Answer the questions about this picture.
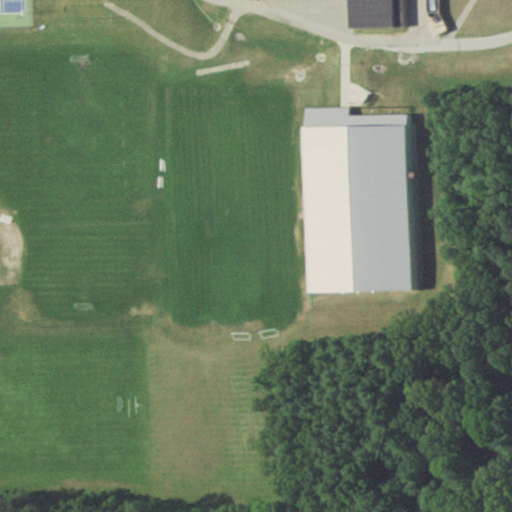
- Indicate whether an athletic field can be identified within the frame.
Yes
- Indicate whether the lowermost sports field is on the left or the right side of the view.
left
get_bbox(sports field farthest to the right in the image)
[163,82,300,328]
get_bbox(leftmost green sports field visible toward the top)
[0,42,162,318]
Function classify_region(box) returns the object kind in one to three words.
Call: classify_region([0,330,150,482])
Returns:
sports field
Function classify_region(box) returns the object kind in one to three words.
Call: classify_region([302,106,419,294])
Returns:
building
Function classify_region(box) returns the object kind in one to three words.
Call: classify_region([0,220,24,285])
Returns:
baseball field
